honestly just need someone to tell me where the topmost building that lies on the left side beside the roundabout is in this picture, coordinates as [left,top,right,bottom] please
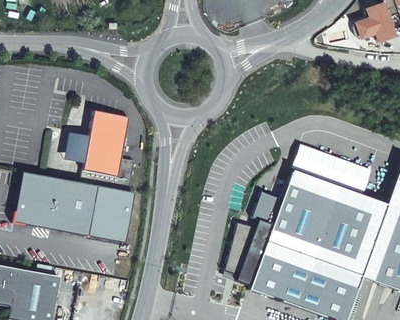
[84,110,128,176]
